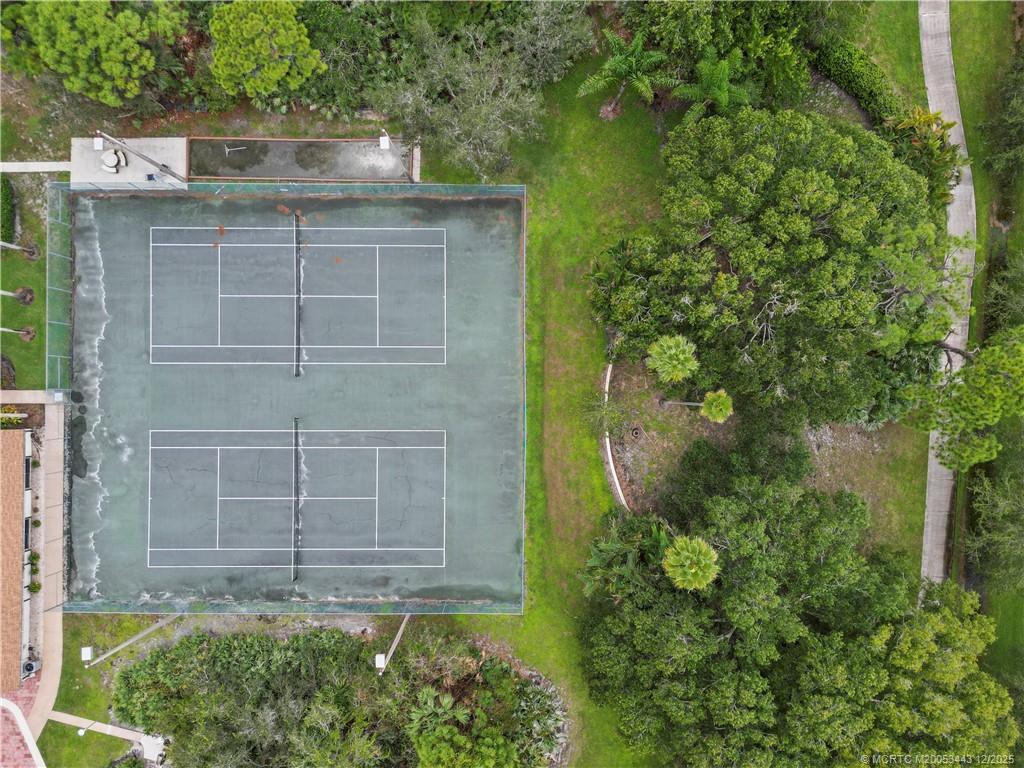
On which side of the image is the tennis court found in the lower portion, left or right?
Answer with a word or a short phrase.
left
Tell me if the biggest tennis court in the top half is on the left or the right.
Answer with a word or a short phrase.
left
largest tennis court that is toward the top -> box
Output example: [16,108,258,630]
[150,228,445,364]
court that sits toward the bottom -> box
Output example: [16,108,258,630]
[148,431,445,568]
